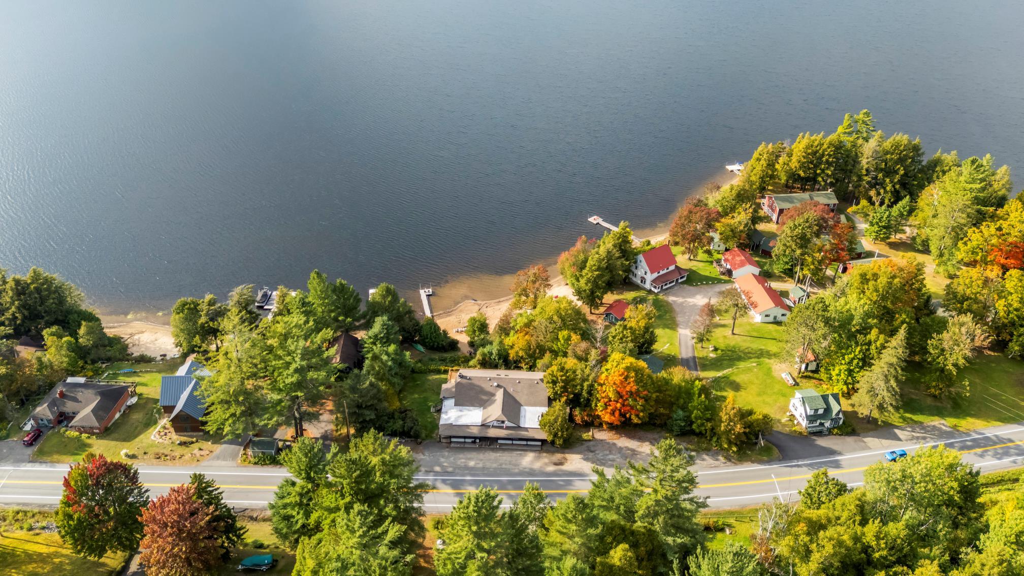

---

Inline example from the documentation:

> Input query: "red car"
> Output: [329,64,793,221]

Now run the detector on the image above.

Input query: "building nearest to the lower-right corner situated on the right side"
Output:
[796,389,844,434]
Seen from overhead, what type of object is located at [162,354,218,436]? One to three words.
house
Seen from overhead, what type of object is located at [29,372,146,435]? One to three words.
house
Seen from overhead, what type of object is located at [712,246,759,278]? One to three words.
building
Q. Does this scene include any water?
Yes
